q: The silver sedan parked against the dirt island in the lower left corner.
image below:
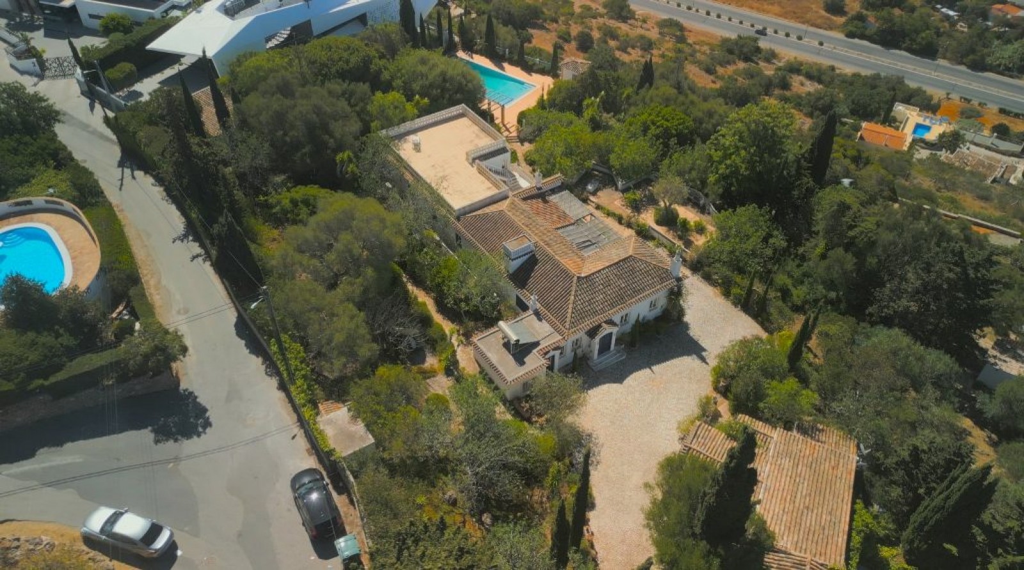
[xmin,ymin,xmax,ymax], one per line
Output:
[89,510,173,564]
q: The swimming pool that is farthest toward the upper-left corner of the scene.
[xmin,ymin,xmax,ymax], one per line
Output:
[0,214,107,349]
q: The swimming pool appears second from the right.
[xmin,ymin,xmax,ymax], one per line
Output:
[441,49,554,158]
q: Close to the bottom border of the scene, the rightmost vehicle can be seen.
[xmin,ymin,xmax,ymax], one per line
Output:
[293,471,343,546]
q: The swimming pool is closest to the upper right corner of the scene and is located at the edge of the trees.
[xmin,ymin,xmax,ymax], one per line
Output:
[901,116,949,149]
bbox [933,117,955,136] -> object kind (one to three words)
umbrella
